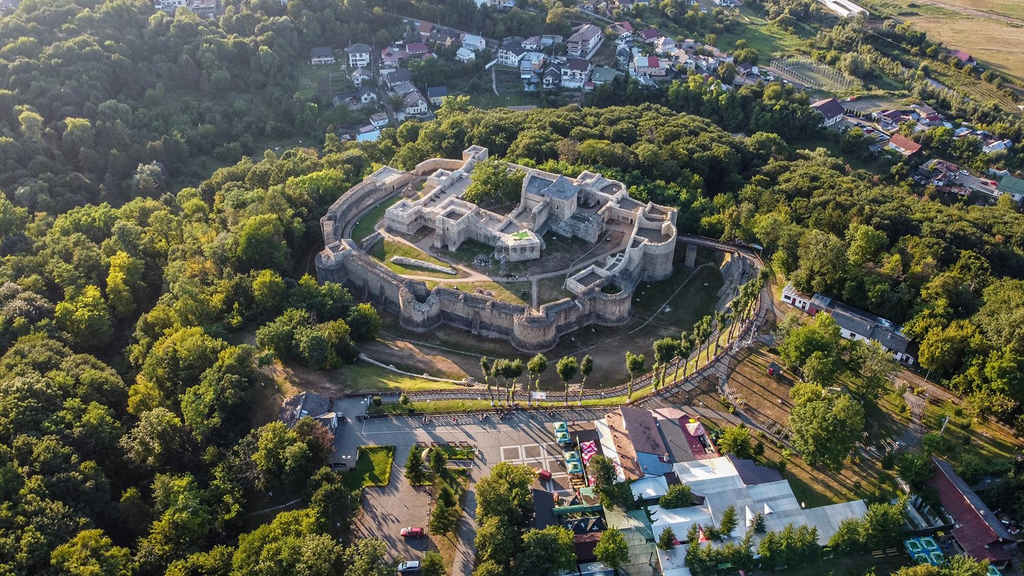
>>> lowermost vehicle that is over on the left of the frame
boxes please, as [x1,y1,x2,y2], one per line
[393,559,421,575]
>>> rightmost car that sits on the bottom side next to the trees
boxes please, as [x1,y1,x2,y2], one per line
[531,466,556,481]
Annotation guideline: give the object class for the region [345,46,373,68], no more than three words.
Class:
house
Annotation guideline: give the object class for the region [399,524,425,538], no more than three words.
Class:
car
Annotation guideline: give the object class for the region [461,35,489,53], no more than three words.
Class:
house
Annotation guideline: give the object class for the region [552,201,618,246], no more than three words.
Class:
building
